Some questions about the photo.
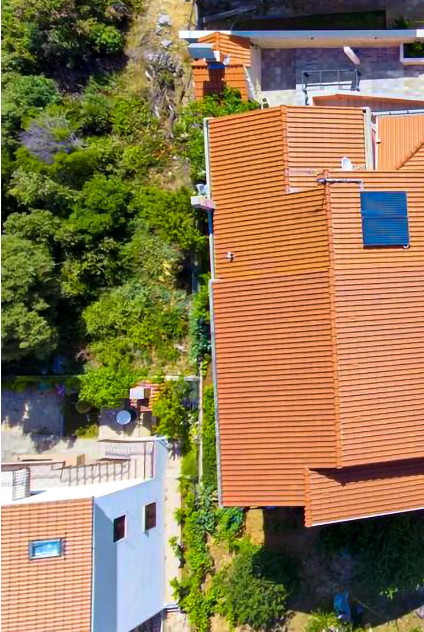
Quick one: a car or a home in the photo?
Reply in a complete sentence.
This aerial view contains a home.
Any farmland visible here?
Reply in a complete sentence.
No, the scene doesn't show any farmland.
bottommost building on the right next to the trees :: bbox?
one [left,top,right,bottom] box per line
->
[191,106,424,528]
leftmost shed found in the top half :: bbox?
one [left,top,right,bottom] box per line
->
[189,31,260,104]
